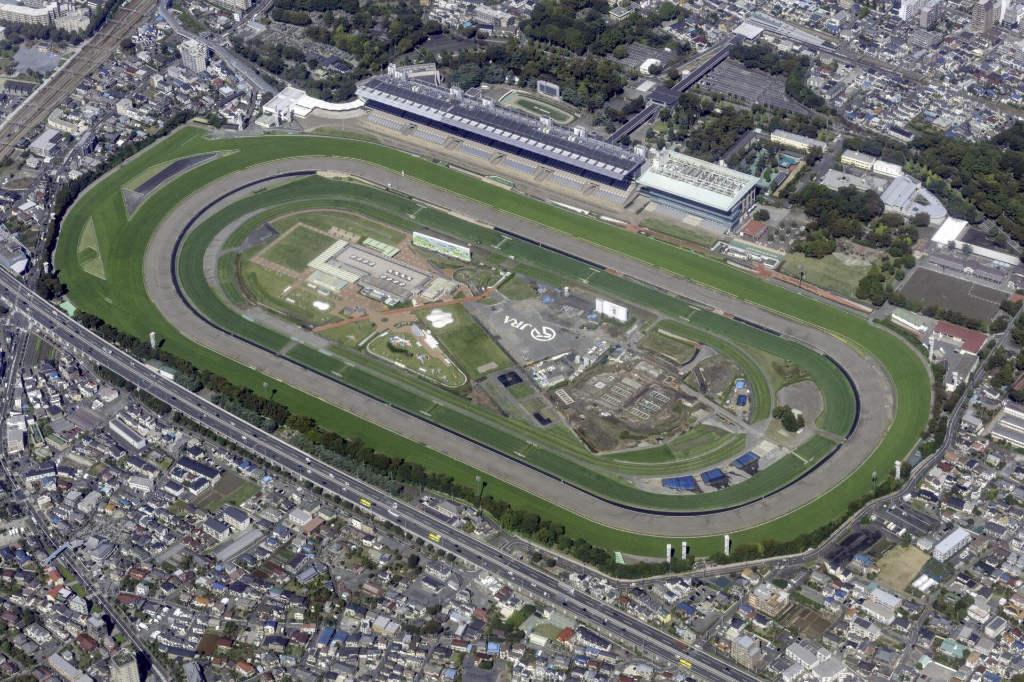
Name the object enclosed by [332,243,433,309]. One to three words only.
building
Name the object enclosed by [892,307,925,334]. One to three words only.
building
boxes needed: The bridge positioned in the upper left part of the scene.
[156,0,279,99]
